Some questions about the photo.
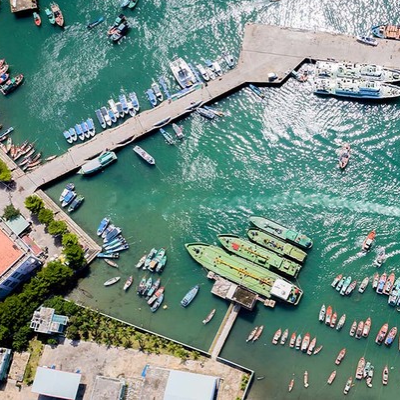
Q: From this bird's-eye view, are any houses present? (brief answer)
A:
Yes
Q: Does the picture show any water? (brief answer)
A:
Yes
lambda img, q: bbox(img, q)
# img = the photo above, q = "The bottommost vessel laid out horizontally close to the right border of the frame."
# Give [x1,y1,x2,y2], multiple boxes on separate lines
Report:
[312,79,400,99]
